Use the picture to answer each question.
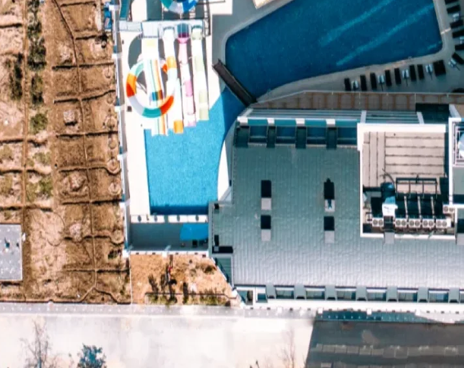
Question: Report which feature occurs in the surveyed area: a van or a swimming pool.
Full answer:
I can see a swimming pool in this picture.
